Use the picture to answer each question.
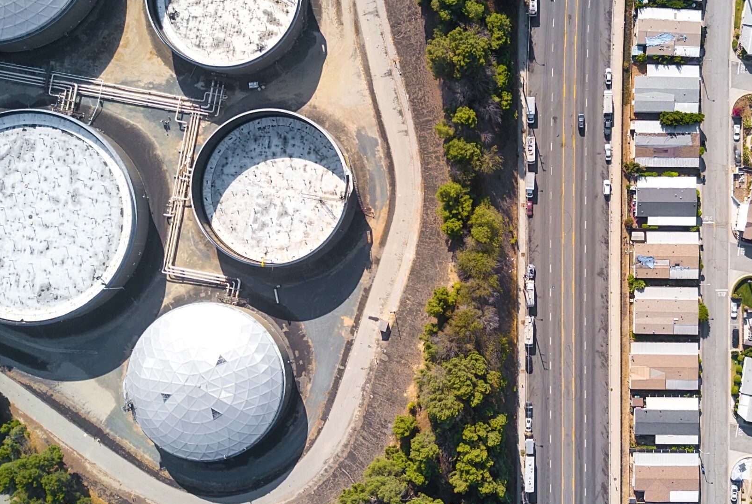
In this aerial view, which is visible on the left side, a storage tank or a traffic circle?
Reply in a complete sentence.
The one visible on the left side is a storage tank.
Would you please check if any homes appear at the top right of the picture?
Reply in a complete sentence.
Yes, a home is visible at the top right of the picture.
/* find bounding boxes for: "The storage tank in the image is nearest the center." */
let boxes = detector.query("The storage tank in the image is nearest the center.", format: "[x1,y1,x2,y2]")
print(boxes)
[192,109,351,271]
